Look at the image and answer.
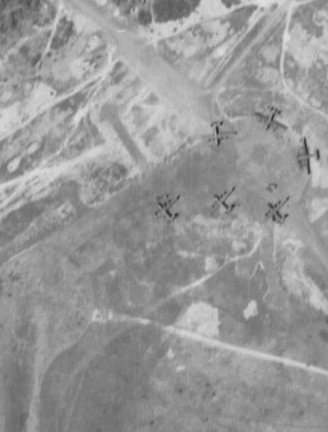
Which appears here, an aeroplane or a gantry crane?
aeroplane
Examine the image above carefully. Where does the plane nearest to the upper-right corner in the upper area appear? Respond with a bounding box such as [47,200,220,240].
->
[254,109,286,131]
